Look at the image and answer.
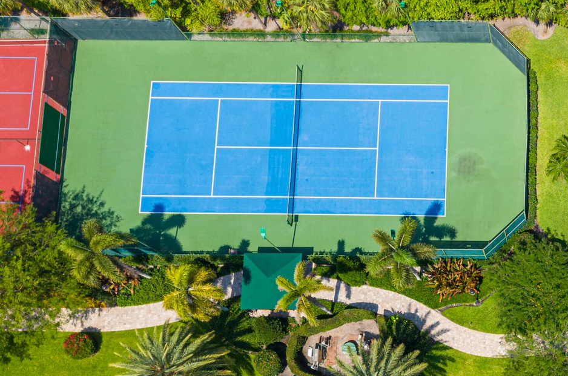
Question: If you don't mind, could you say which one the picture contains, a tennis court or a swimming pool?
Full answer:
Of the two, only a tennis court appears.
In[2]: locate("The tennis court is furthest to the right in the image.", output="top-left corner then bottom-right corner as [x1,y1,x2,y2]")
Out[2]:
[60,40,528,260]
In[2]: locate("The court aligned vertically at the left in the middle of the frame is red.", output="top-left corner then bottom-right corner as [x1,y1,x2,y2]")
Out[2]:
[0,40,69,261]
